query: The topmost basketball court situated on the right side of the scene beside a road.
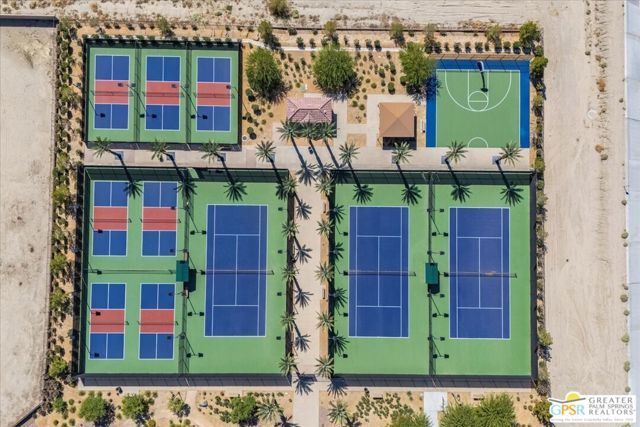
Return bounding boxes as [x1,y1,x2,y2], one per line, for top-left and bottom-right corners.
[426,59,530,148]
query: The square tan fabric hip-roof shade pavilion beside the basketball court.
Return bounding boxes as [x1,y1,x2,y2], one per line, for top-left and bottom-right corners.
[379,103,415,138]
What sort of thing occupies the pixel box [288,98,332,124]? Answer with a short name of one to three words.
building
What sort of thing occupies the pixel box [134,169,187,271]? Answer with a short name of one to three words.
sports court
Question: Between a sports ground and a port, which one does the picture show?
sports ground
